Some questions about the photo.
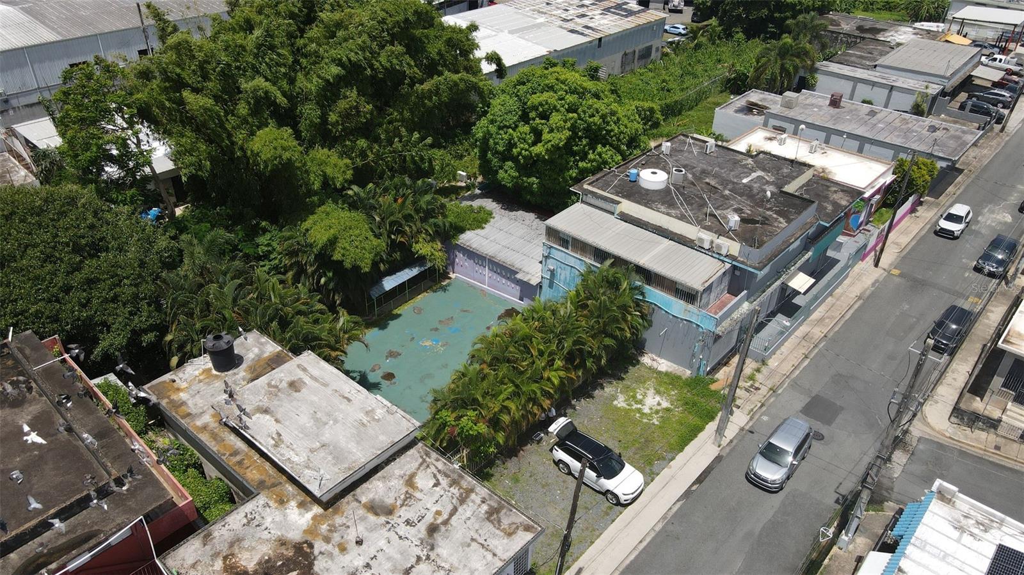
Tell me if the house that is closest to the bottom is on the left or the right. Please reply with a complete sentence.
The house that is closest to the bottom appears in the right half of the scene.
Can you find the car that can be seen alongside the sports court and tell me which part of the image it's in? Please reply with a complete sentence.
The car that can be seen alongside the sports court is in the bottom part of the image.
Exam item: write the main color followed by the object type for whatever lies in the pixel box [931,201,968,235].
white car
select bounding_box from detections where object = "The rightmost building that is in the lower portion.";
[957,285,1024,447]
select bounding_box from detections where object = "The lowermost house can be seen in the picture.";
[832,475,1024,575]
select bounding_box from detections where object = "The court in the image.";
[304,270,614,430]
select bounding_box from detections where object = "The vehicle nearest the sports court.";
[543,408,649,505]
